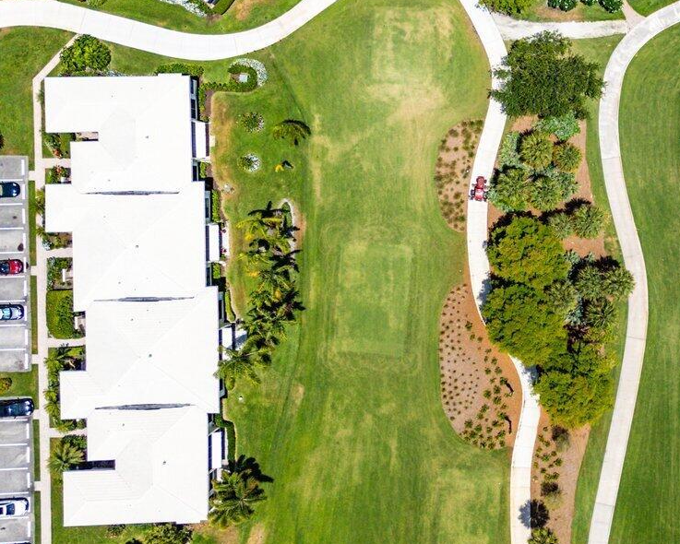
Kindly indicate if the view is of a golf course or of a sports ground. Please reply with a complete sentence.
The area seen from above is a golf course.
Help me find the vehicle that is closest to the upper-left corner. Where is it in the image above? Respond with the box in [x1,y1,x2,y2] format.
[0,180,23,201]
